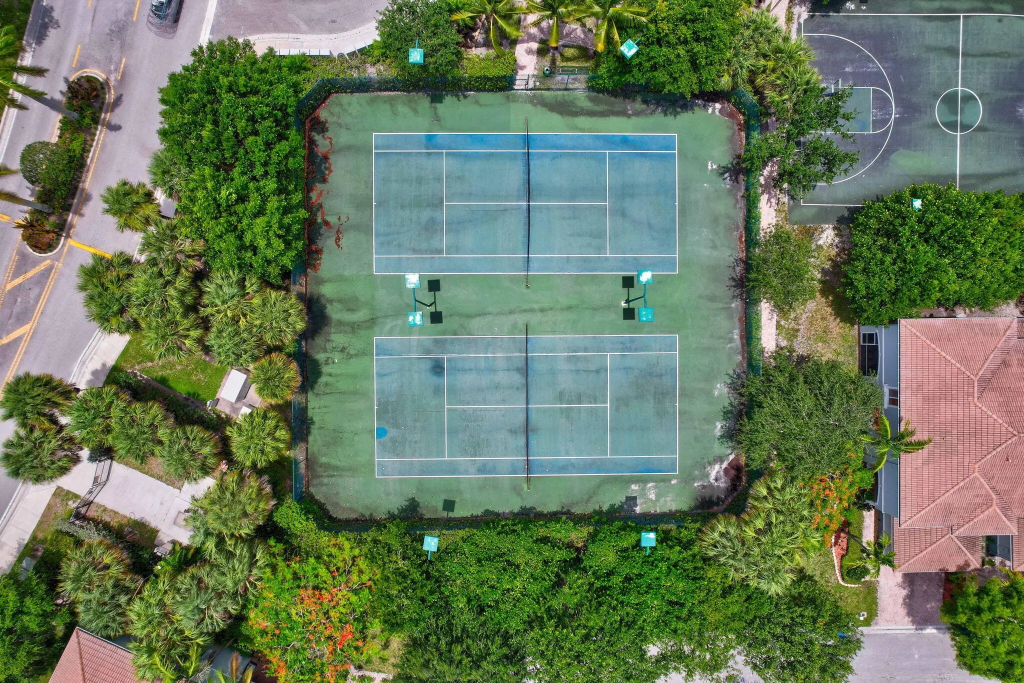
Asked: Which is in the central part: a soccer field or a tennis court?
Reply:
tennis court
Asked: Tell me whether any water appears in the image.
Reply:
No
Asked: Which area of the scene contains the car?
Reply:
top left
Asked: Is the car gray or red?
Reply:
gray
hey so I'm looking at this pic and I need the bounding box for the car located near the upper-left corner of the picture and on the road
[148,0,183,28]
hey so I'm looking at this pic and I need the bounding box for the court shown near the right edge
[789,0,1024,223]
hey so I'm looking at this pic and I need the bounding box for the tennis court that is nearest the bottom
[374,334,679,477]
